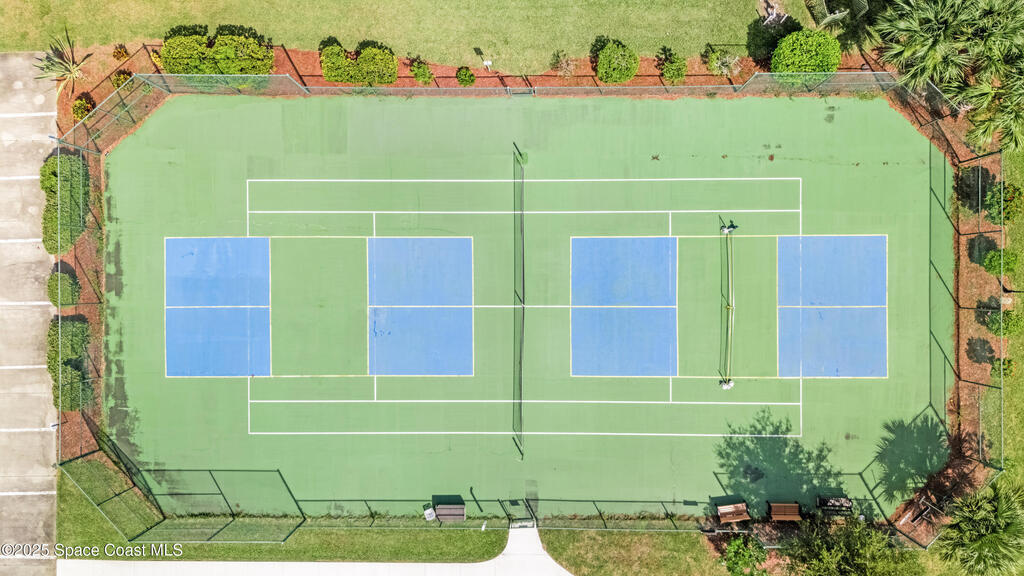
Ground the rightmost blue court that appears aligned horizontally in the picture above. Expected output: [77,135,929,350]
[571,235,888,380]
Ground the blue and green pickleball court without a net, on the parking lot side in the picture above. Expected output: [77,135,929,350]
[165,235,473,378]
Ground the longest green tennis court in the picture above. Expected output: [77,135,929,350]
[103,93,955,521]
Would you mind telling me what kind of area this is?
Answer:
sports ground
